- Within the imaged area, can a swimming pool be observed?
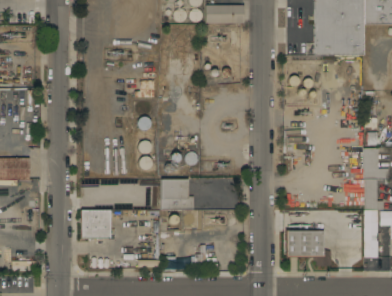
No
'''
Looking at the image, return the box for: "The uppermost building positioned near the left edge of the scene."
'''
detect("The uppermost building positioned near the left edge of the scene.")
[0,156,30,180]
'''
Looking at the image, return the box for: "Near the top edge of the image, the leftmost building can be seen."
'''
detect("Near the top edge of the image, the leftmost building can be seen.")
[206,4,244,24]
